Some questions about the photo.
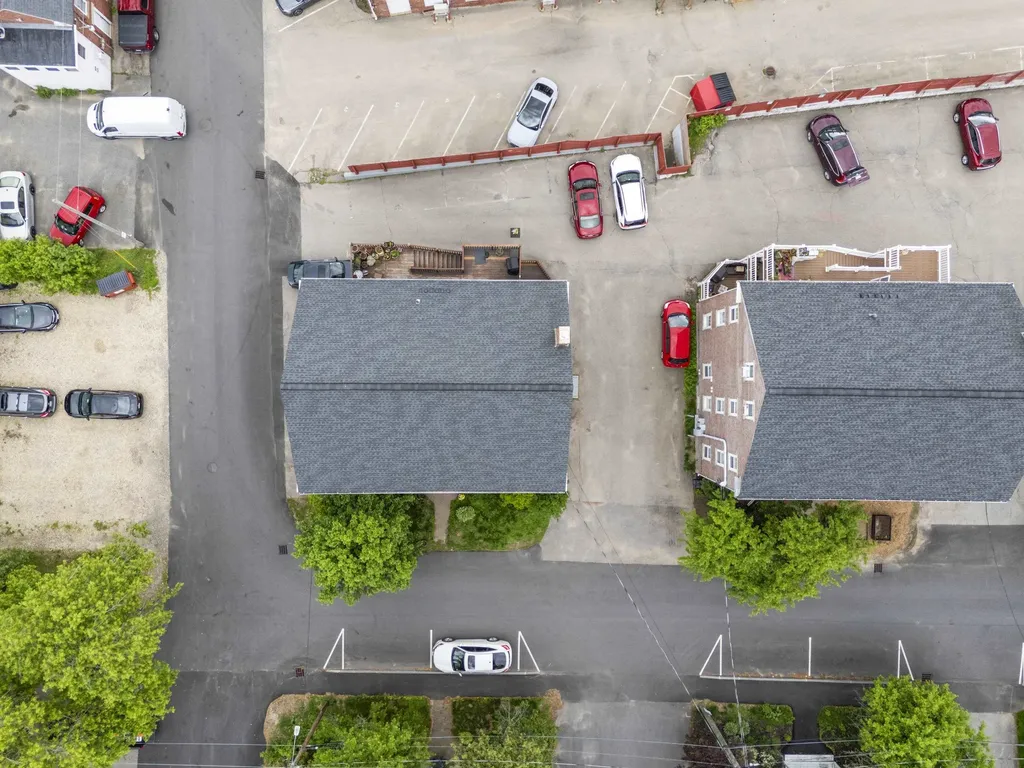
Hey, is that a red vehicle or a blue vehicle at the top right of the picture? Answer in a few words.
red vehicle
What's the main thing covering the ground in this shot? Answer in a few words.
paved ground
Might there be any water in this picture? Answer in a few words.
No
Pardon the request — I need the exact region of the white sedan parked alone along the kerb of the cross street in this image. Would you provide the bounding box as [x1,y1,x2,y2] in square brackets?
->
[431,637,512,677]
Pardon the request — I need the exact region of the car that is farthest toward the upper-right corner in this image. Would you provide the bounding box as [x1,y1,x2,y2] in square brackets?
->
[952,97,1003,173]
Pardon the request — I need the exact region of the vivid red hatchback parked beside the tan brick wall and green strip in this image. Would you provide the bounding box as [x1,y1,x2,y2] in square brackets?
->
[659,299,696,370]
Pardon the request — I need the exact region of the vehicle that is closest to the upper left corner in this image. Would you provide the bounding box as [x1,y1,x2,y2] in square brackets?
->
[118,0,162,54]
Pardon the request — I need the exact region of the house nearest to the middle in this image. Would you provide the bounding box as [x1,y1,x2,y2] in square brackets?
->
[280,280,573,494]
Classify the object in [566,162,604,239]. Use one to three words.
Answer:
car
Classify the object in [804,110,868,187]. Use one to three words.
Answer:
car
